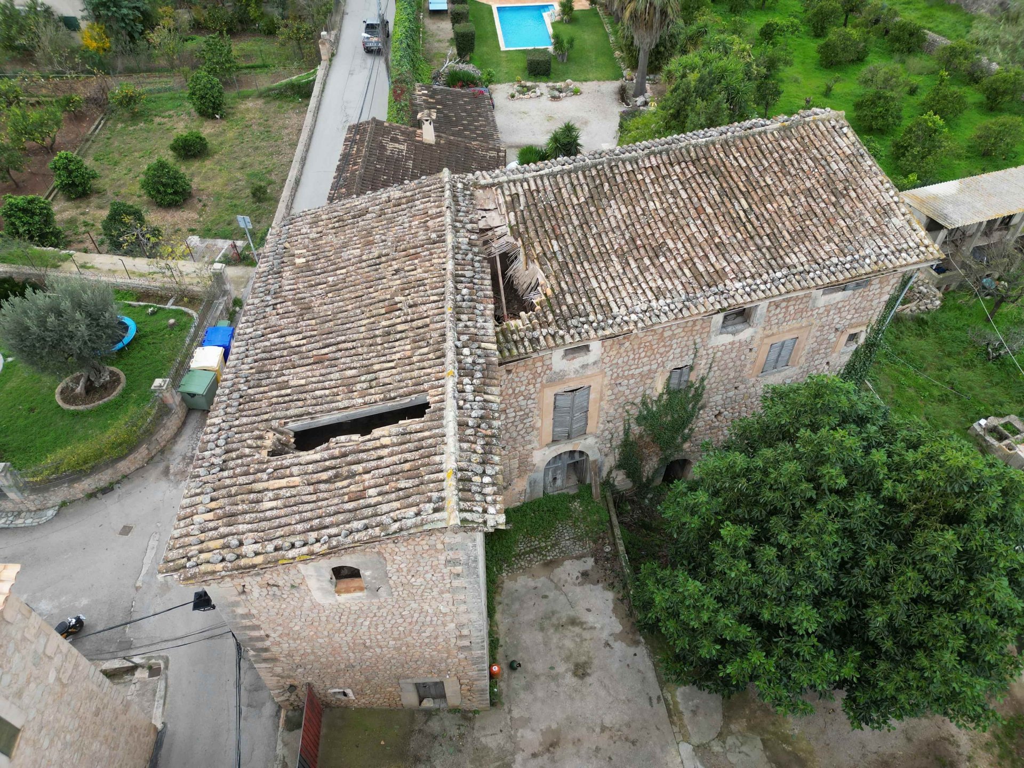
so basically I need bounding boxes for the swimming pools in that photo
[492,4,556,50]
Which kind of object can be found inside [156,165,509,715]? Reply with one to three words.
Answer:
house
